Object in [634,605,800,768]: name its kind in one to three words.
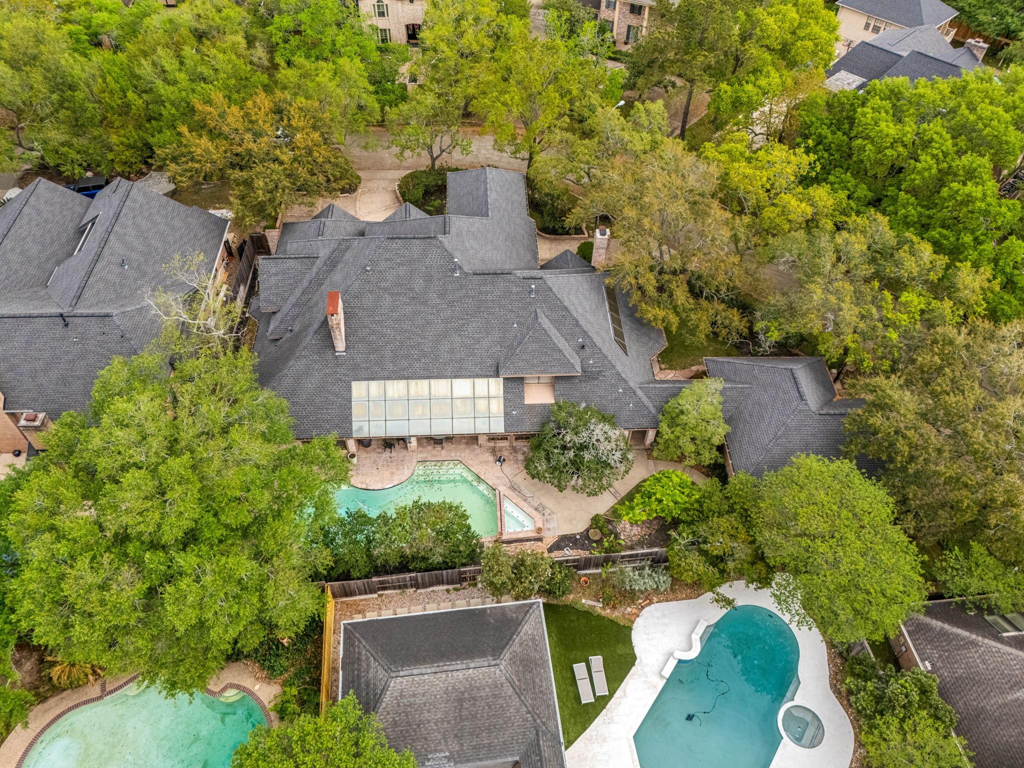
swimming pool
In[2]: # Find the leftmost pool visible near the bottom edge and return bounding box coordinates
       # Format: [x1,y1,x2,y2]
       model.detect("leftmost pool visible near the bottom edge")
[10,664,272,768]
